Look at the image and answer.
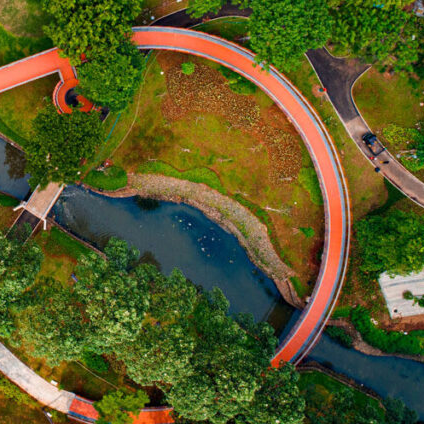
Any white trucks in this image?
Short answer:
No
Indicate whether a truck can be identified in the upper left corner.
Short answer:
No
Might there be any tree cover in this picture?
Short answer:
Yes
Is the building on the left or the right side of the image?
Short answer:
right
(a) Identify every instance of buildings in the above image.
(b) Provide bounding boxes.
[380,269,424,319]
